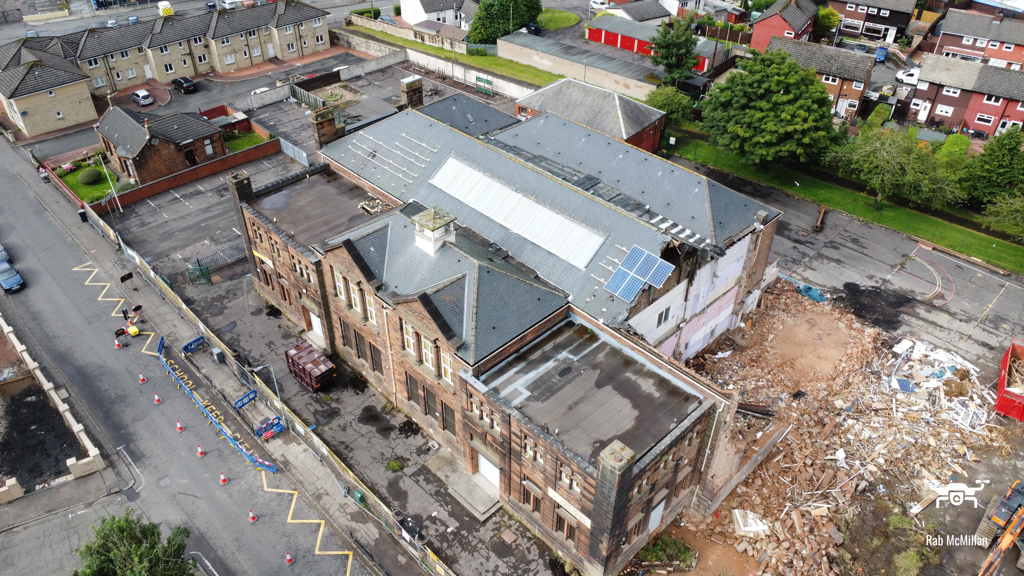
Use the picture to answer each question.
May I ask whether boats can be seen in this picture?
No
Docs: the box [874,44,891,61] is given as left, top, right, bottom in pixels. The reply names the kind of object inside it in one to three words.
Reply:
car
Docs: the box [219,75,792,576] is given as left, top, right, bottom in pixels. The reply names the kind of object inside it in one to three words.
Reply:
building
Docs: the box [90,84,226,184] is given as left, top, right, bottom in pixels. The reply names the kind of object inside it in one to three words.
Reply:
house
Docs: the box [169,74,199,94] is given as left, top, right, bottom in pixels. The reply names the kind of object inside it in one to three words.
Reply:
car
